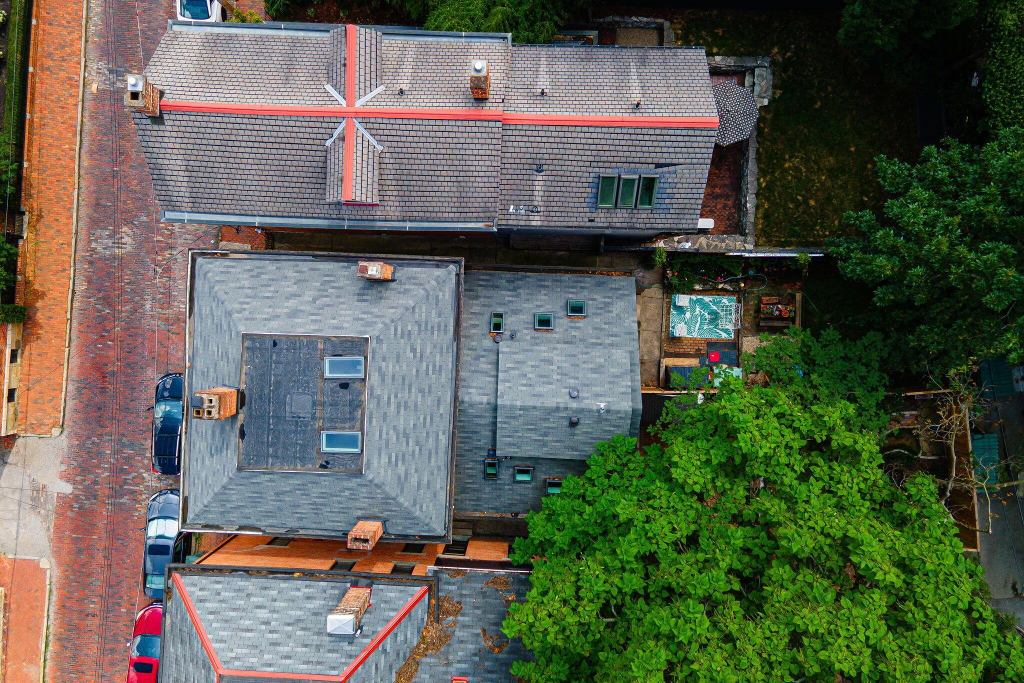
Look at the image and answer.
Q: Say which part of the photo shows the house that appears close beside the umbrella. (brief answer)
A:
top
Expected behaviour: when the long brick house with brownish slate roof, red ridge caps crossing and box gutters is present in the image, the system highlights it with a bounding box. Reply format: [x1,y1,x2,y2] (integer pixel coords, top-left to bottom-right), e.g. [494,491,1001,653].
[123,24,720,238]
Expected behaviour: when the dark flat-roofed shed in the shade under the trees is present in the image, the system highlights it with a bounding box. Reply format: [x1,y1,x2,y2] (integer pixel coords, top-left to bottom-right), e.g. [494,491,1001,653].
[890,88,947,153]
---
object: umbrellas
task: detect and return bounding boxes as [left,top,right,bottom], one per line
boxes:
[712,83,756,148]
